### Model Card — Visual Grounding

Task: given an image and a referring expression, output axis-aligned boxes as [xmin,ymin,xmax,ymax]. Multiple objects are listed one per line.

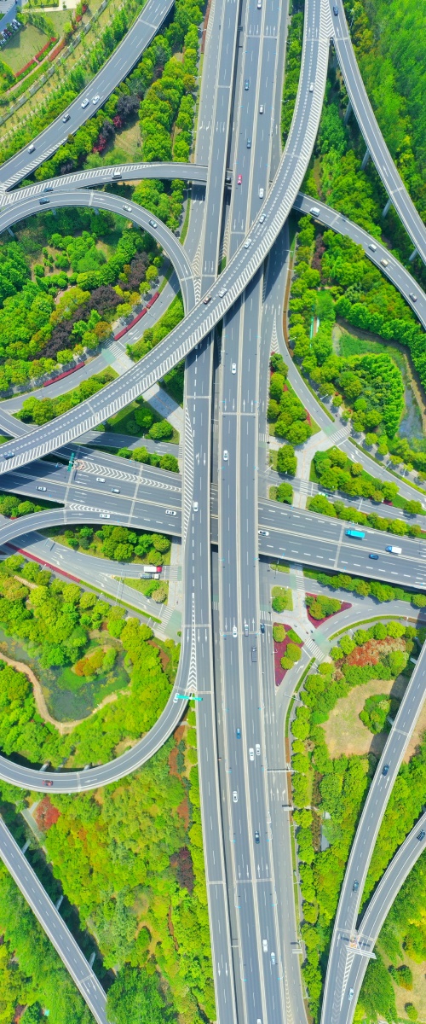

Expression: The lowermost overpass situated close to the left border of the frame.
[0,817,126,1024]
